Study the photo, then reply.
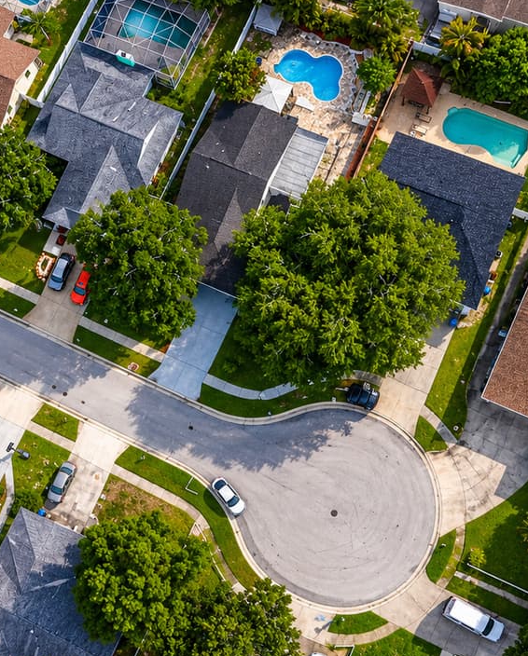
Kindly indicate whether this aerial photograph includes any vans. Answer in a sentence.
Yes, a van can be made out from above.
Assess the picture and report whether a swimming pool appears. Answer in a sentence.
Yes, a swimming pool is visible in the scene.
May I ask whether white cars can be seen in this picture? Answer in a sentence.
Yes, there's a white car here.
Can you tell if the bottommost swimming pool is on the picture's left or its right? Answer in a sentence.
You can find the bottommost swimming pool on the right side of the picture.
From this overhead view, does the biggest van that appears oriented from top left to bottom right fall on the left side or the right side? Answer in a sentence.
The biggest van that appears oriented from top left to bottom right appears in the right half of the scene.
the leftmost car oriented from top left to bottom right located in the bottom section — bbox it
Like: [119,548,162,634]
[209,476,248,519]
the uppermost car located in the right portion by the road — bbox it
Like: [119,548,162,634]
[339,379,385,413]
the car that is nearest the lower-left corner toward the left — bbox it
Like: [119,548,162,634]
[47,459,78,505]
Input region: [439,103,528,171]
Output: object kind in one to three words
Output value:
swimming pool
